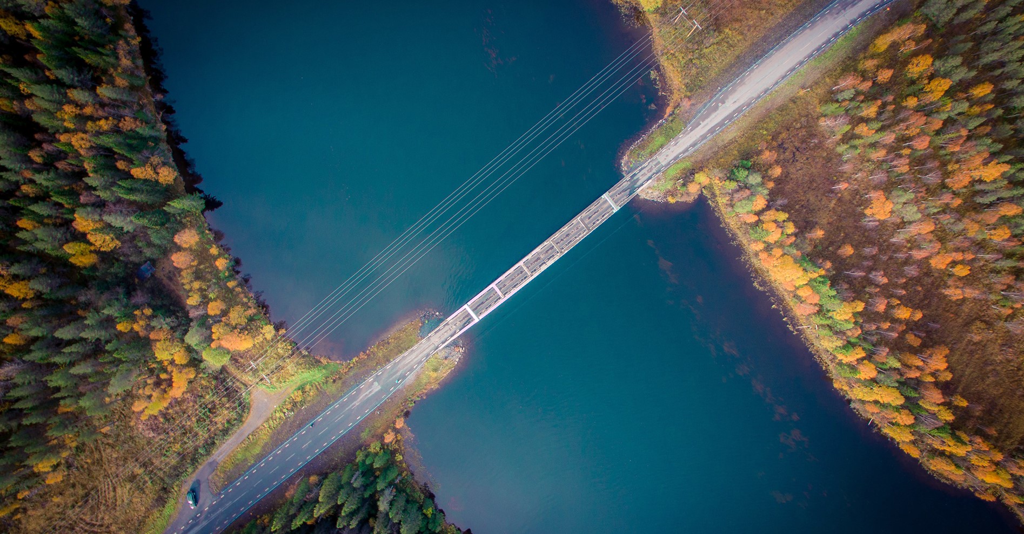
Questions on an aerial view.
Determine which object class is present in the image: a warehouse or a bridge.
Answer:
bridge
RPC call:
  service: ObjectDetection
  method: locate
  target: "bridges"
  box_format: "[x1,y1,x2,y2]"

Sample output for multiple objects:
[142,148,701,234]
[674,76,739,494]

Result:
[429,165,650,353]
